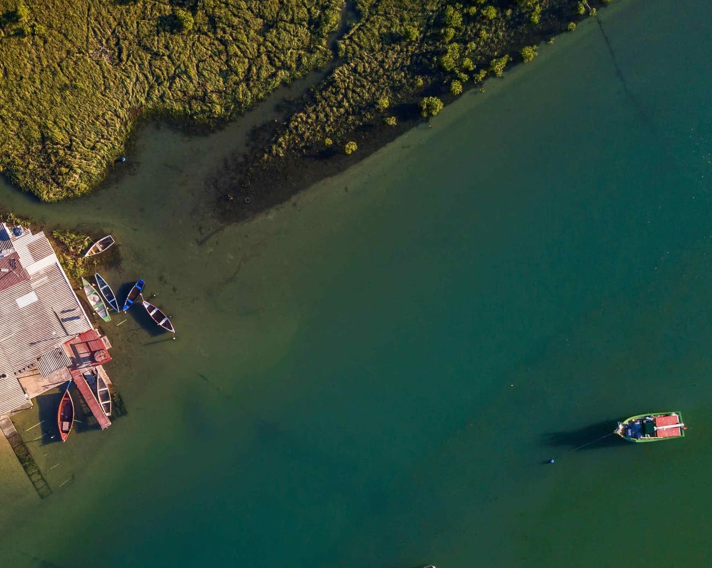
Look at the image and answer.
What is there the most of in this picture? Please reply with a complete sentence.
Most of the picture is covered by water.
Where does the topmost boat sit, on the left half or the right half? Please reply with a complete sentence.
The topmost boat is on the left side of the image.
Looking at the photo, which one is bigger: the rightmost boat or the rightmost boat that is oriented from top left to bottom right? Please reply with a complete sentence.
Of the two, the rightmost boat is larger and the rightmost boat that is oriented from top left to bottom right is the smaller one.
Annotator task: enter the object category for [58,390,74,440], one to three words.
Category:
boat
